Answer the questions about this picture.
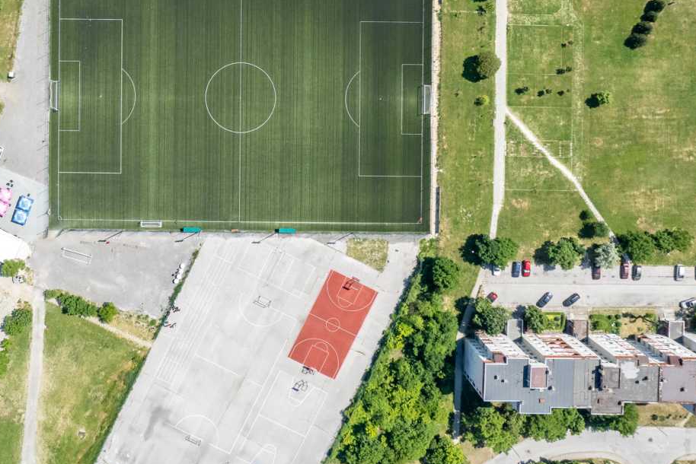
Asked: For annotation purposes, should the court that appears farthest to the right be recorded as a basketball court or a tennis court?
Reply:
basketball court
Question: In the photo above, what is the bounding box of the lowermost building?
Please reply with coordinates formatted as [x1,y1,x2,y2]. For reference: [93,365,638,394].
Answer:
[463,332,696,416]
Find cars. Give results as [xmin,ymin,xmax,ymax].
[485,289,500,305]
[620,261,629,278]
[522,259,531,277]
[591,264,601,281]
[675,263,683,281]
[537,291,552,307]
[632,265,641,281]
[493,262,501,278]
[681,297,696,308]
[563,293,579,307]
[512,262,520,277]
